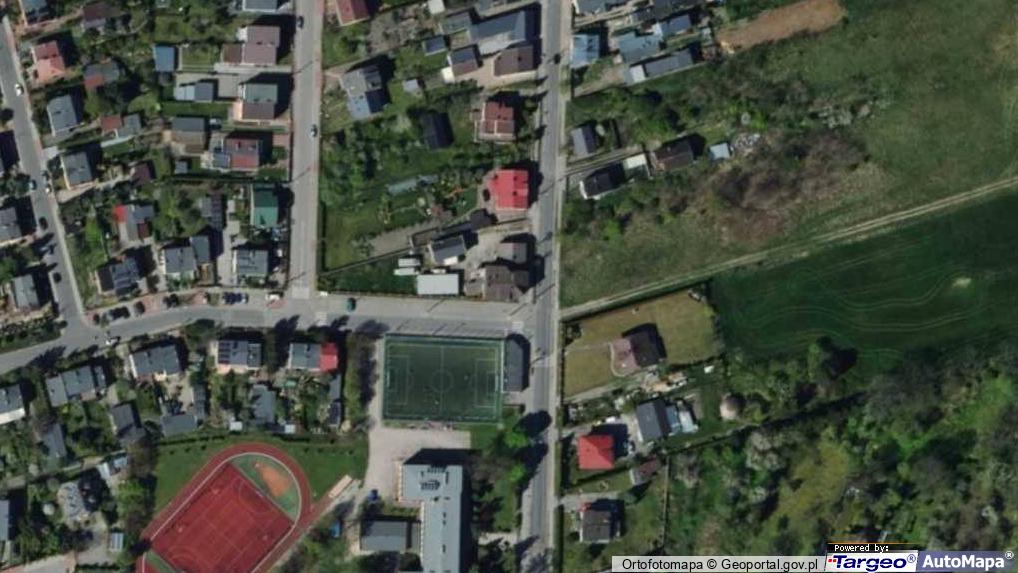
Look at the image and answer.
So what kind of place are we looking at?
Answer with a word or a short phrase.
residential area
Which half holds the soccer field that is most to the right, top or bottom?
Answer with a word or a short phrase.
bottom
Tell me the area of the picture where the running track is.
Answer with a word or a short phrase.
bottom left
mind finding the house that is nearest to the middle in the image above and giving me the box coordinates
[481,263,529,302]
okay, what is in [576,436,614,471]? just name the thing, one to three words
house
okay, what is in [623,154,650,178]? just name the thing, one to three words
building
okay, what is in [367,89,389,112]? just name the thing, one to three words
solar panel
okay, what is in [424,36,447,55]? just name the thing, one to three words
shed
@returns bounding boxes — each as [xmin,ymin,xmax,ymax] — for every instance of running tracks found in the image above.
[134,443,333,573]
